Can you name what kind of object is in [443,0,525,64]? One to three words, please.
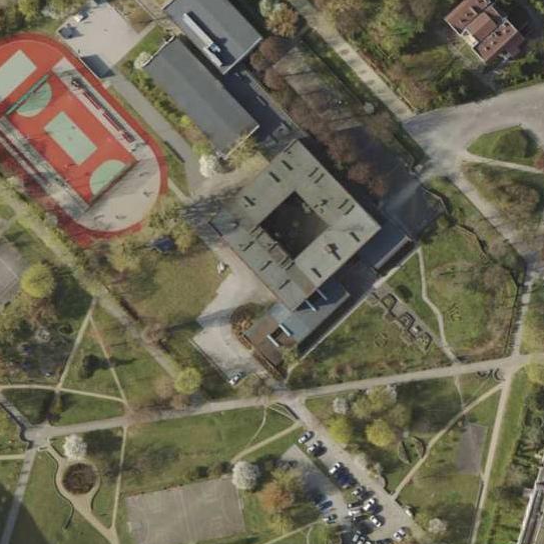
house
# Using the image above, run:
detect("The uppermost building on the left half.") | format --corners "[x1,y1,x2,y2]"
[164,0,262,76]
